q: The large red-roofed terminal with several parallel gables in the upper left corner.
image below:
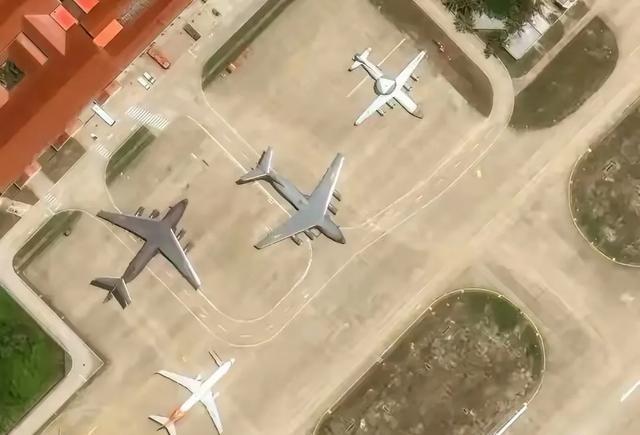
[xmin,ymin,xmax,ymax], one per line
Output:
[0,0,194,195]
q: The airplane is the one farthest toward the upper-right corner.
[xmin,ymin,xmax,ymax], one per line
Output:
[349,47,426,126]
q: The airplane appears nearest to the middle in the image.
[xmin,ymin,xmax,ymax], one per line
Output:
[239,145,345,250]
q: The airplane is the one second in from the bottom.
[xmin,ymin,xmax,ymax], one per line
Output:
[92,200,198,308]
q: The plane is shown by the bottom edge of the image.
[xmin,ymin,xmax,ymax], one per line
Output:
[149,358,235,435]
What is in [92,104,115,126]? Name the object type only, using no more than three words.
bus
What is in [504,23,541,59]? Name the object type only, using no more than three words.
house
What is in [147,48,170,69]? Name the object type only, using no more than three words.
vehicle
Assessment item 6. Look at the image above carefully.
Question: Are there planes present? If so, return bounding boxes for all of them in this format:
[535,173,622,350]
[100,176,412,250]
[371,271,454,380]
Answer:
[92,200,198,308]
[239,145,345,250]
[149,358,235,435]
[349,47,426,126]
